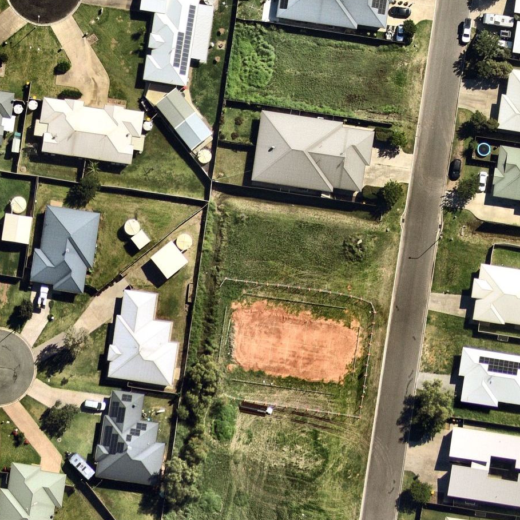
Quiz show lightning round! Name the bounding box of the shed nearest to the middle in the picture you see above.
[151,241,189,279]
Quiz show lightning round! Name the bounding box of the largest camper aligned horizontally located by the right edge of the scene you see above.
[478,14,515,27]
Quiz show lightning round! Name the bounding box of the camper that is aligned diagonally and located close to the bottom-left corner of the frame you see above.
[68,452,95,480]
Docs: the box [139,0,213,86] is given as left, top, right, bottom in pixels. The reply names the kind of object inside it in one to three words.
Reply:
house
